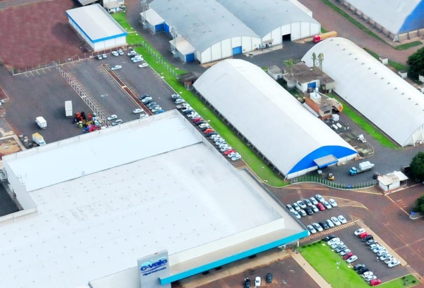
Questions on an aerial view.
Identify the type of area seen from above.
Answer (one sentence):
This looks like an industrial area.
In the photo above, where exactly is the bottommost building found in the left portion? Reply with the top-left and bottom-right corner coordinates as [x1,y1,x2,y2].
[0,104,308,288]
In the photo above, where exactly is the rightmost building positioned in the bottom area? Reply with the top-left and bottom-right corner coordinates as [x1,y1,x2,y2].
[375,169,406,193]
